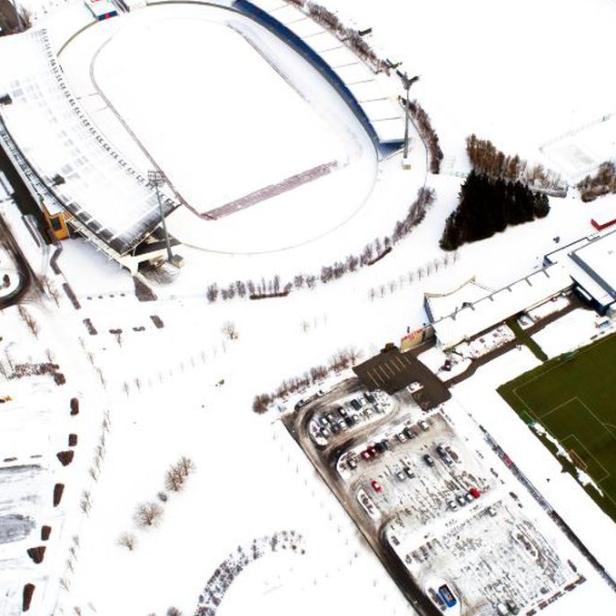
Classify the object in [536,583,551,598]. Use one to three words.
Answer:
car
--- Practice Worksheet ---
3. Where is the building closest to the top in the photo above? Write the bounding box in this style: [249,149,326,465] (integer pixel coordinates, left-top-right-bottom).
[85,0,119,21]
